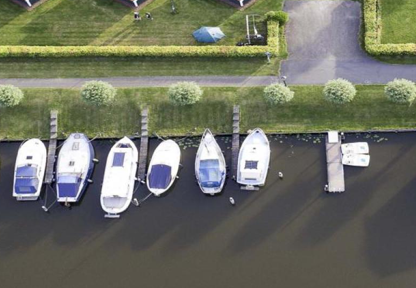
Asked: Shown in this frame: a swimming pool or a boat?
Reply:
boat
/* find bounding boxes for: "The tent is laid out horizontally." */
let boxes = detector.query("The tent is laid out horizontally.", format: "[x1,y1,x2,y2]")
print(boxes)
[191,27,225,44]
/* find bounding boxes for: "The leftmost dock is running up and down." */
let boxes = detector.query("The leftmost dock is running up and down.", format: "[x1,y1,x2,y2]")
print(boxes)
[42,110,58,183]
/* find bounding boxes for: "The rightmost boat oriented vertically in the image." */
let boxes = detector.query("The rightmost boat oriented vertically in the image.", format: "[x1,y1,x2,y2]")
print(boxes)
[236,127,270,193]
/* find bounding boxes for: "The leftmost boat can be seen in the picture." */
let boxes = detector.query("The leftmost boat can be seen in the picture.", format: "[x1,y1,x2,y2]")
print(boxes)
[12,138,46,203]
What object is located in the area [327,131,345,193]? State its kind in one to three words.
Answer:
pier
